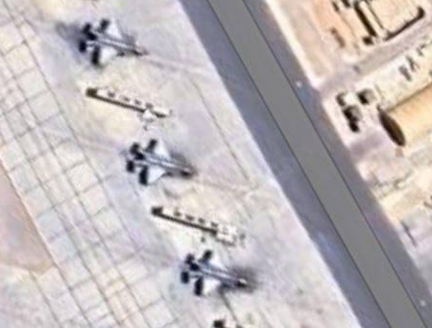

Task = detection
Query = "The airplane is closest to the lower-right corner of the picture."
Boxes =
[190,253,252,295]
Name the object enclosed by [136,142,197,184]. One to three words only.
airplane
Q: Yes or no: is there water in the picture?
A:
No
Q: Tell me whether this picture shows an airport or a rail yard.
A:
airport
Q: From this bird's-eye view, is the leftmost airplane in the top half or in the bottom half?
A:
top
